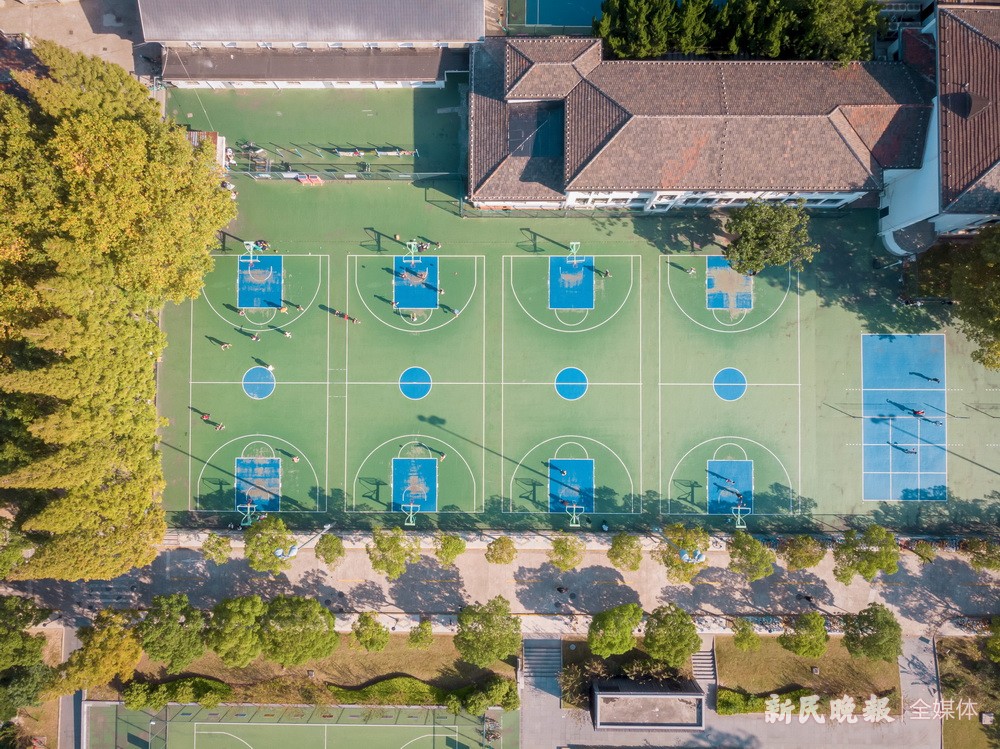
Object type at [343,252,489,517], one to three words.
basketball court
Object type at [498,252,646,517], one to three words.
basketball court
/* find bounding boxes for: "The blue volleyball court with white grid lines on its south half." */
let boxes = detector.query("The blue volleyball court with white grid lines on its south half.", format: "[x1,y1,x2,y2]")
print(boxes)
[848,333,964,501]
